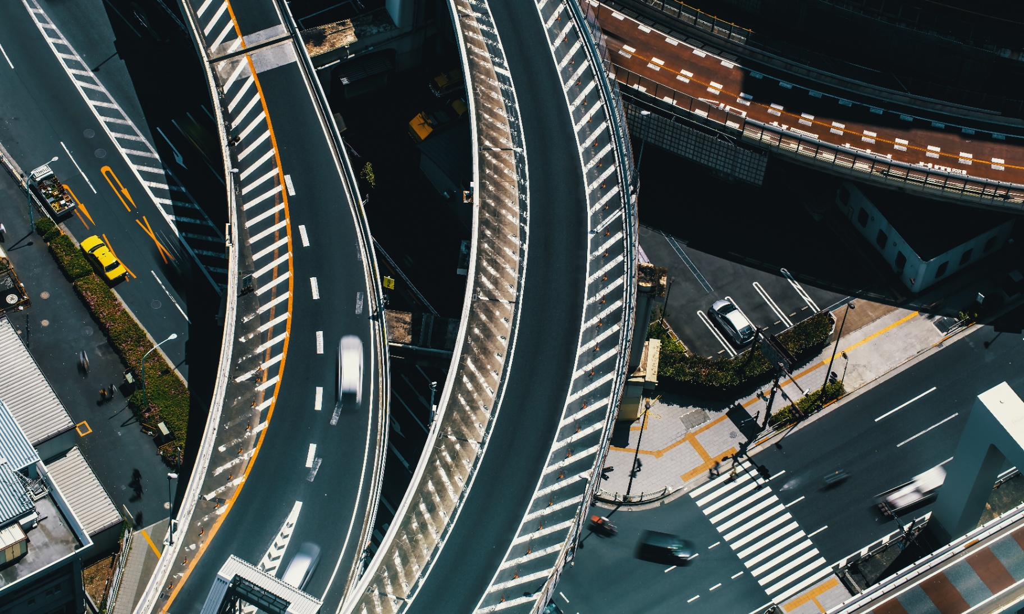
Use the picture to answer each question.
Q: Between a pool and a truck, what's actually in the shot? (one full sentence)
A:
The one in the frame is a truck.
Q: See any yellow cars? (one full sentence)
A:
Yes, the frame does contain a yellow car.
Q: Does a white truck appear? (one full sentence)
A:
Yes, there's a white truck here.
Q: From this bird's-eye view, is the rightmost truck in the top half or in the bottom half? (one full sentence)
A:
The rightmost truck sits in the bottom half of the picture.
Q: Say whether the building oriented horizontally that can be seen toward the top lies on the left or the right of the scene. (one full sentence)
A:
The building oriented horizontally that can be seen toward the top appears in the right half of the scene.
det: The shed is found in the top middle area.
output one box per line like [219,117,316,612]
[416,118,471,213]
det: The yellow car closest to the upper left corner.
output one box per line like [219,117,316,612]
[82,235,126,282]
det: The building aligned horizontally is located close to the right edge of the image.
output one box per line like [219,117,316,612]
[836,180,1023,289]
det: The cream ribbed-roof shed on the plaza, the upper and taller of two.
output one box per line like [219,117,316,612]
[0,314,77,462]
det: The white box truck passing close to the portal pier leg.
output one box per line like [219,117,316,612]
[882,457,951,516]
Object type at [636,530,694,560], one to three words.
car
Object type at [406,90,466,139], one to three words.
truck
